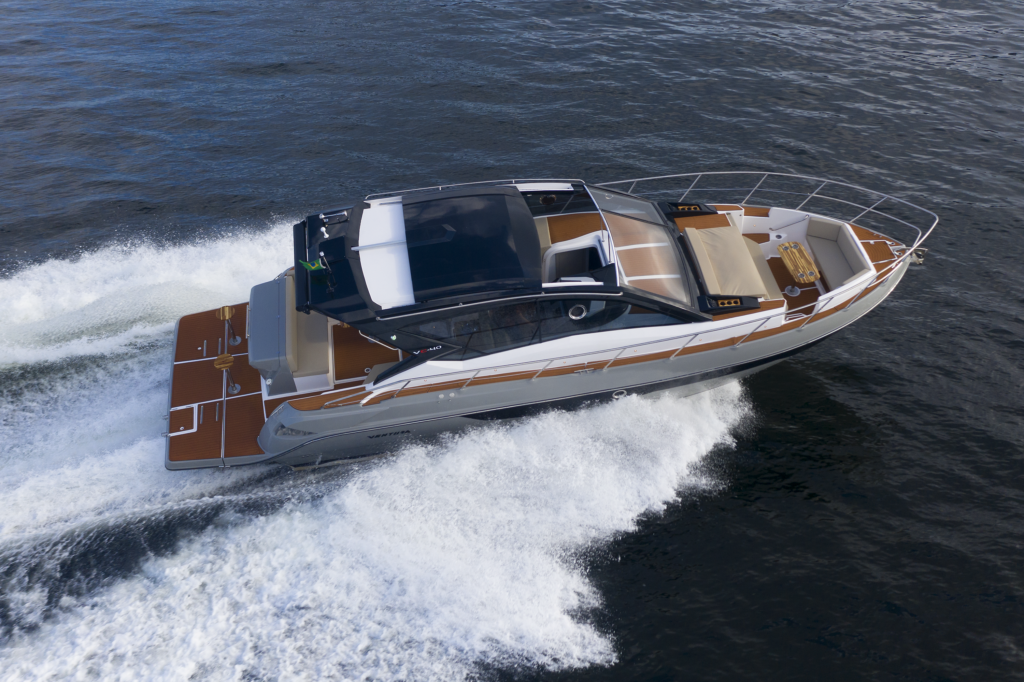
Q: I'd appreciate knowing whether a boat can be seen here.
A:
Yes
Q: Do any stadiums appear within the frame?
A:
No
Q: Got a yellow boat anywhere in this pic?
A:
No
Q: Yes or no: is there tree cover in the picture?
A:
No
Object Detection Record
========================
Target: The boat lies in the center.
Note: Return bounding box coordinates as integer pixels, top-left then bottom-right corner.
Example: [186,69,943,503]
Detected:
[162,172,943,476]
